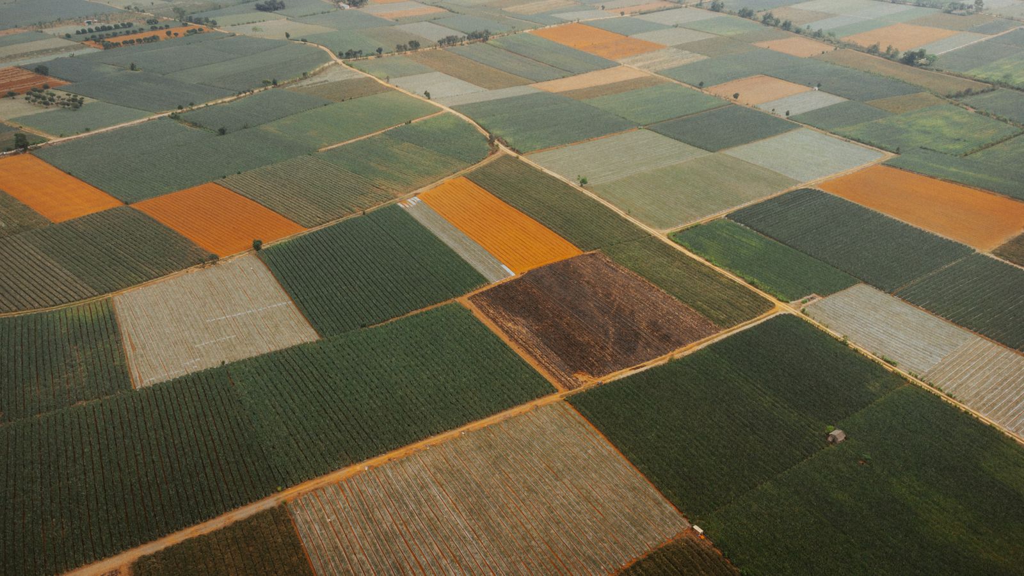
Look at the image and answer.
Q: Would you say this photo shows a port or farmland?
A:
farmland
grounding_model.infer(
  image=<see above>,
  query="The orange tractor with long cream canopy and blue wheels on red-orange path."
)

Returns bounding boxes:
[691,521,708,542]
